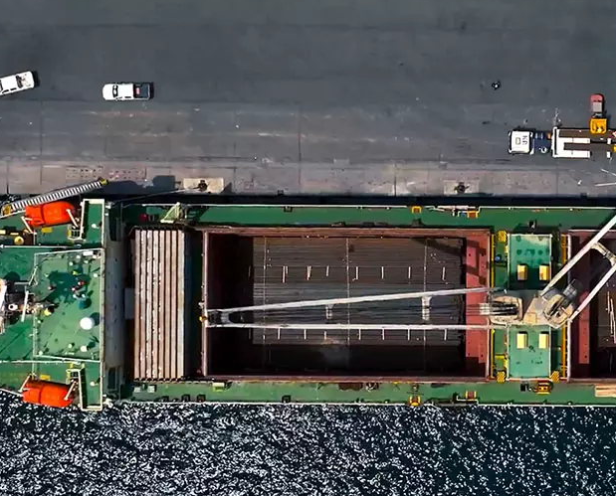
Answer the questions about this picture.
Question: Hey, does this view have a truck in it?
Yes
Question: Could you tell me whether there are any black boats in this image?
No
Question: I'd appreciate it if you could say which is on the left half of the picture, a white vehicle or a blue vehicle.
white vehicle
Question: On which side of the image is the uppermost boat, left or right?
left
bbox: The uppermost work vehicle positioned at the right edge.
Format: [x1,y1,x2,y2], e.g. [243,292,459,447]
[590,97,604,118]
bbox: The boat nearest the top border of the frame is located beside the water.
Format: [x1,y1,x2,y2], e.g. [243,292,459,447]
[27,200,80,229]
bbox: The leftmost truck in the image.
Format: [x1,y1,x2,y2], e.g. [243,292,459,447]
[0,70,38,97]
